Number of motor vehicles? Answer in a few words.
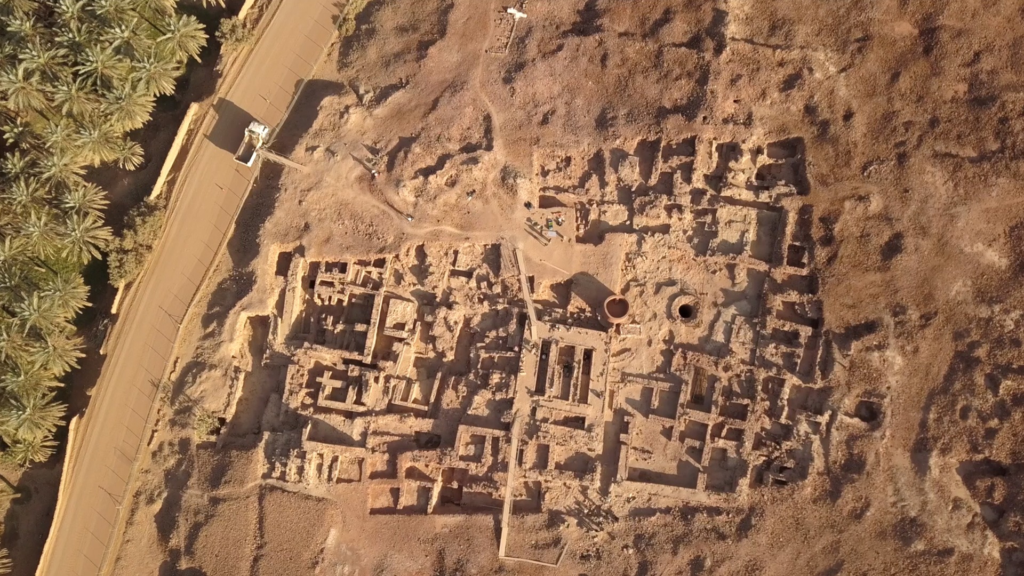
1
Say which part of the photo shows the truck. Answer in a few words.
top left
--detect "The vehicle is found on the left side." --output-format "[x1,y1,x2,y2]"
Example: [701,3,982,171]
[229,121,267,165]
